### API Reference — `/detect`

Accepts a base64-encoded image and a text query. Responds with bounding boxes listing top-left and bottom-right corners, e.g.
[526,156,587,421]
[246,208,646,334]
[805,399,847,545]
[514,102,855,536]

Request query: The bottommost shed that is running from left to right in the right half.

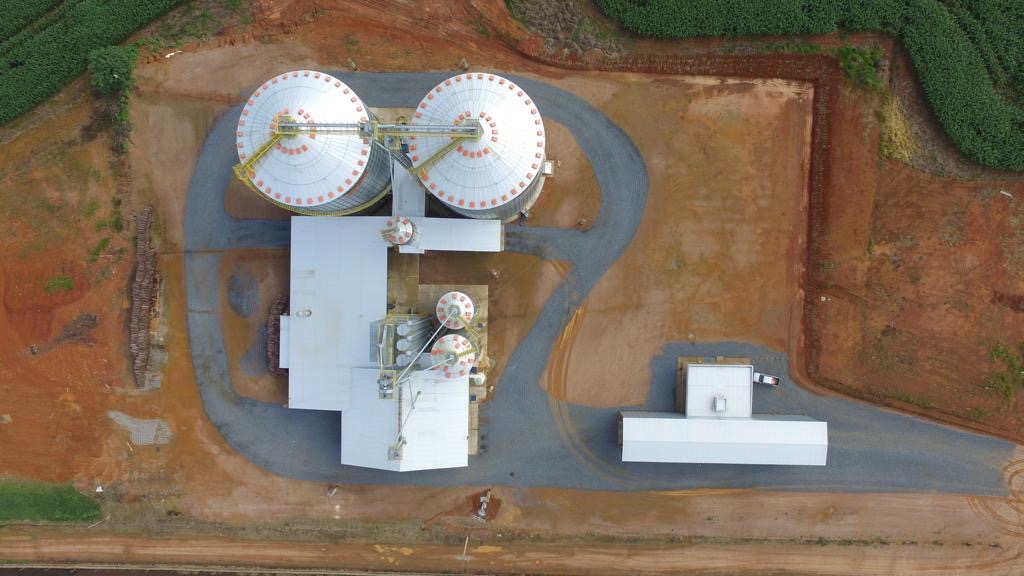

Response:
[616,409,828,466]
